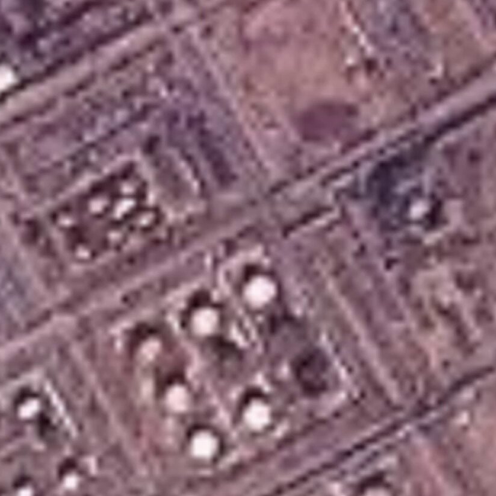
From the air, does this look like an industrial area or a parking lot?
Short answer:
industrial area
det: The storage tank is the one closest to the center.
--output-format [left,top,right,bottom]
[237,269,281,312]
